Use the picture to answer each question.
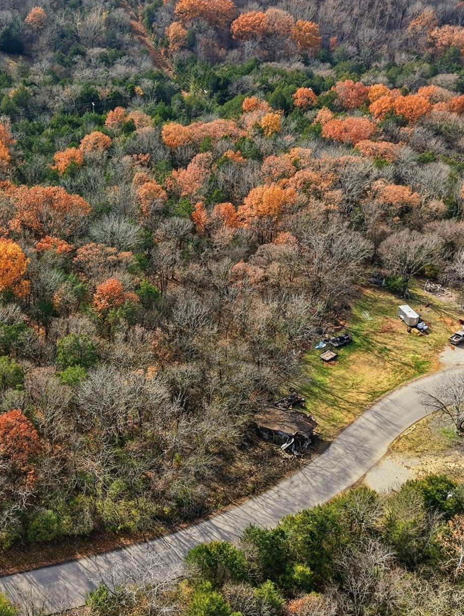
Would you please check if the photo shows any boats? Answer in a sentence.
No, no boat is visible in the scene.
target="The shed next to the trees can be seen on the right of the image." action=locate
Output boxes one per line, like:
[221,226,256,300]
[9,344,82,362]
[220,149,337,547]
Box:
[254,404,319,451]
